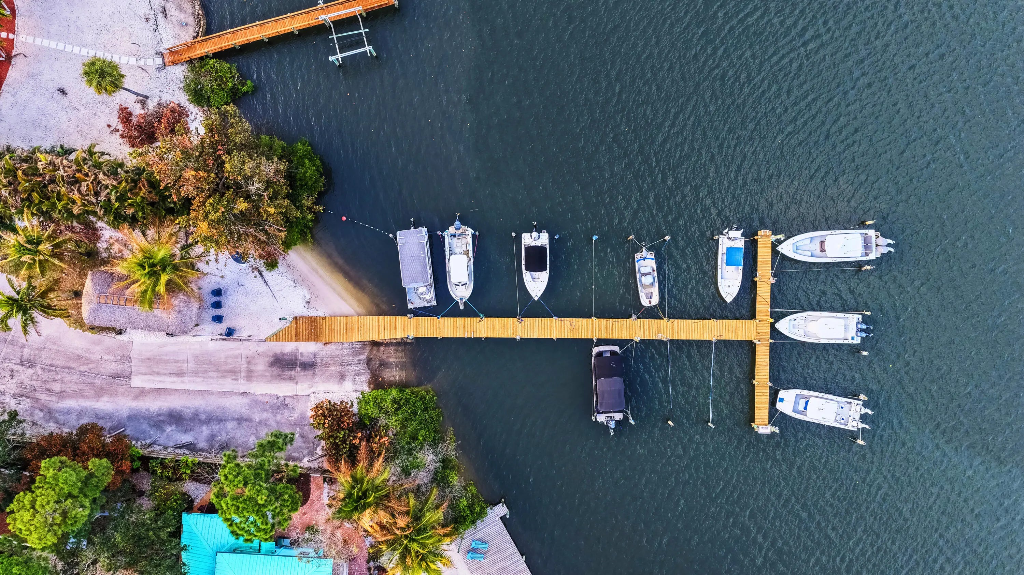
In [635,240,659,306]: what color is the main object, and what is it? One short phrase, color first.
white boat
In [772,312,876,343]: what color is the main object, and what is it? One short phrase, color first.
white boat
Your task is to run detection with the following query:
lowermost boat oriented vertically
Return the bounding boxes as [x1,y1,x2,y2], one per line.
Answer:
[593,345,626,436]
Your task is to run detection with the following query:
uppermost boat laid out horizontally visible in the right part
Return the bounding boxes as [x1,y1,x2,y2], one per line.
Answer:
[773,228,895,263]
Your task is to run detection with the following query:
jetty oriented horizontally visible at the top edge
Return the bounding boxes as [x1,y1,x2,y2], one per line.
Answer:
[159,0,402,65]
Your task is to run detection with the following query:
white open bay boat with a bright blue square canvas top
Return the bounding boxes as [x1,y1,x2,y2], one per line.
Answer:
[716,225,745,303]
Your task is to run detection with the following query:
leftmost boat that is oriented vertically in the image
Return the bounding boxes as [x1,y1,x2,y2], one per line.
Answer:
[397,216,437,308]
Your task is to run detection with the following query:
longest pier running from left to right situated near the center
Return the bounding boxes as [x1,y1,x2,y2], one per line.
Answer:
[266,229,781,431]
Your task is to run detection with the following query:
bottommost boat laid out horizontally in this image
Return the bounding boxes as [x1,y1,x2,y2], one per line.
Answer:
[775,389,875,430]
